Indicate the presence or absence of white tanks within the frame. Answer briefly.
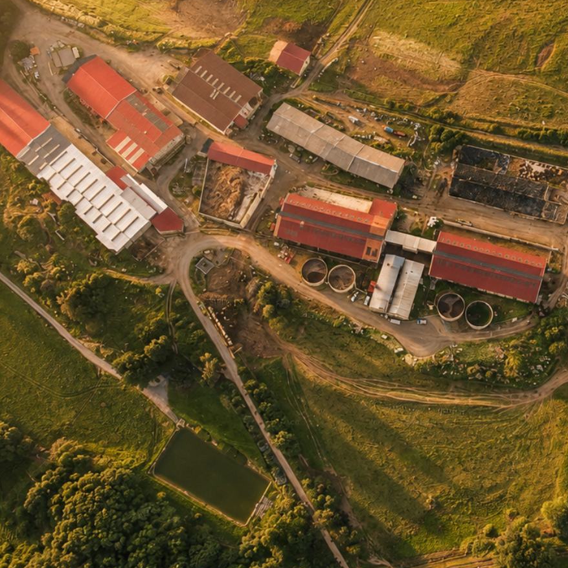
No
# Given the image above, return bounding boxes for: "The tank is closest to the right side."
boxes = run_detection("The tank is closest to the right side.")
[466,301,494,329]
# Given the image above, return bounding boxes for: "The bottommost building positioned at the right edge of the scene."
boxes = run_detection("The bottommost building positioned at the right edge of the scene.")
[428,231,548,304]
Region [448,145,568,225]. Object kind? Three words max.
barn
